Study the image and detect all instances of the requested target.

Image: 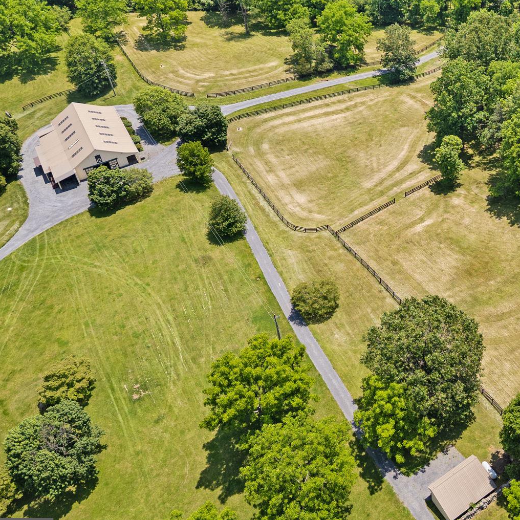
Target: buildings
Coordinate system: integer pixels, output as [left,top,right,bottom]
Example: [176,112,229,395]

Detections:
[36,101,140,192]
[429,454,496,520]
